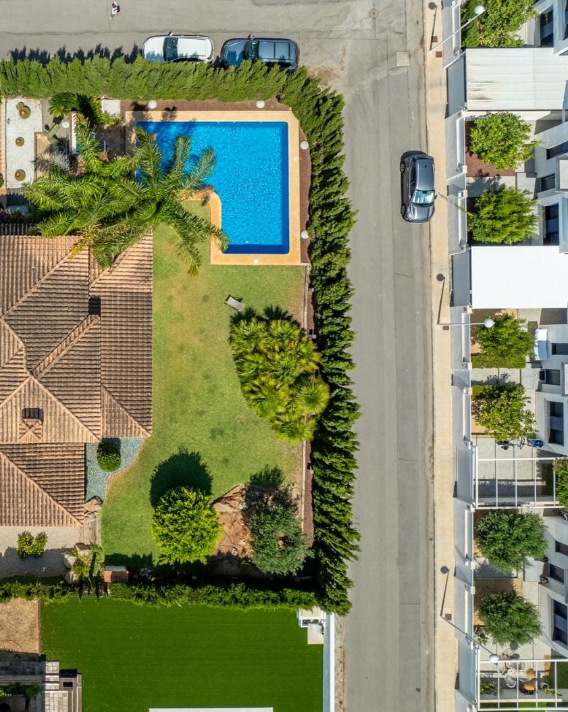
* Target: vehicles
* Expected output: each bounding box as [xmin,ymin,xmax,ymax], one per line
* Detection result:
[398,153,438,224]
[217,33,298,73]
[139,31,213,67]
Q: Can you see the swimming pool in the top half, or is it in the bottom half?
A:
top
